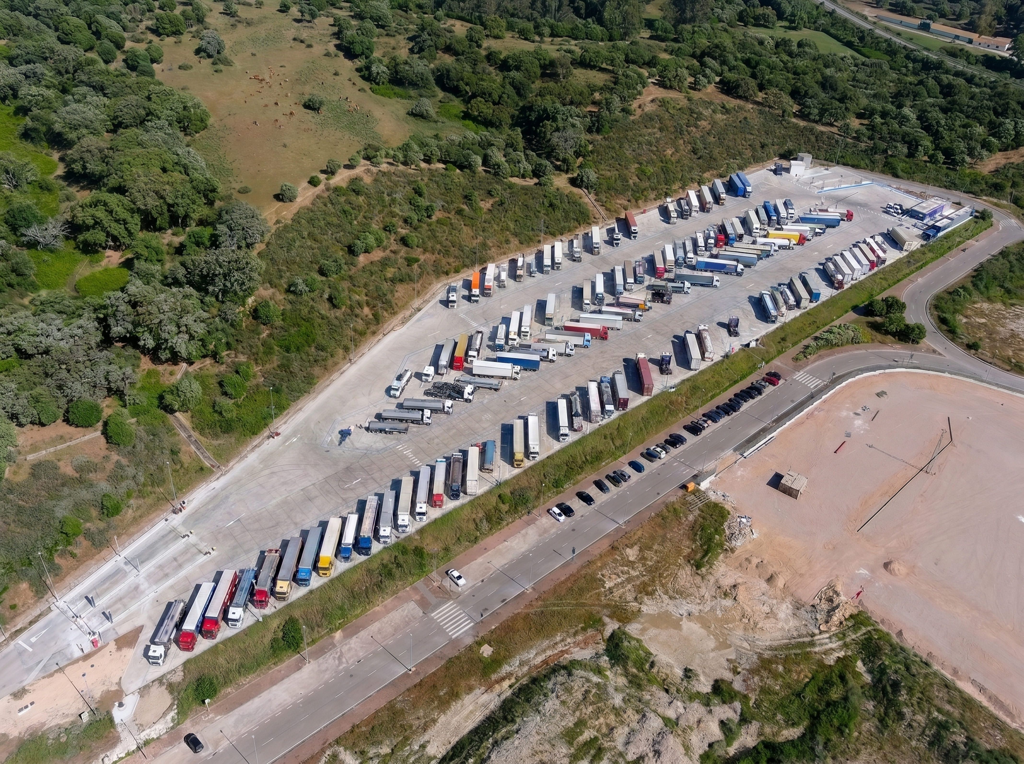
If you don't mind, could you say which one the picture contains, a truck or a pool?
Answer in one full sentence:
Of the two, only a truck appears.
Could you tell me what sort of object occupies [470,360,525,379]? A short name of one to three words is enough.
vehicle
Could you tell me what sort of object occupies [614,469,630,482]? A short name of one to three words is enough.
vehicle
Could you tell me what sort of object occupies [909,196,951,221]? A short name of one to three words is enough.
building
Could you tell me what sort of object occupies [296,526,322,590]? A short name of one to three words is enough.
truck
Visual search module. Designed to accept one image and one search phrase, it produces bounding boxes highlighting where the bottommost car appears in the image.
[185,732,202,754]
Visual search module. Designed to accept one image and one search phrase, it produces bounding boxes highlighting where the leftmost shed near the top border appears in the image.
[877,11,922,29]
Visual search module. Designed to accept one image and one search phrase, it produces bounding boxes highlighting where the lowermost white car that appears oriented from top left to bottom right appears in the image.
[449,572,466,587]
